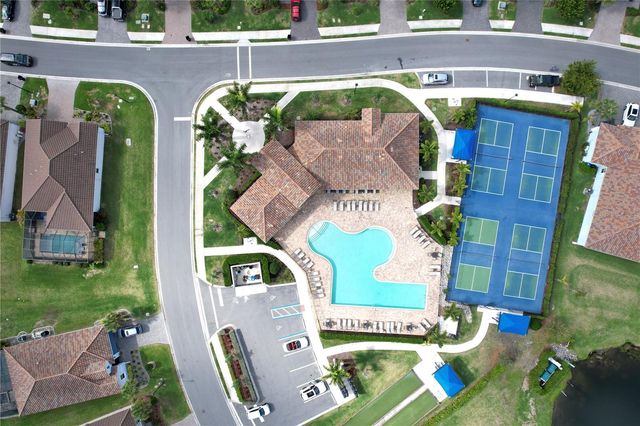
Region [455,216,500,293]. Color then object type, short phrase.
green sports court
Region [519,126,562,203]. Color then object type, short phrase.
blue sports court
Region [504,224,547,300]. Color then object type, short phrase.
blue sports court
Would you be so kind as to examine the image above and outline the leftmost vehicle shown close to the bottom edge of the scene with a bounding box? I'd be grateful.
[246,403,272,421]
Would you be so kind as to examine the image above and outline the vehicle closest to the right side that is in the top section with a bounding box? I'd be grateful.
[621,101,638,127]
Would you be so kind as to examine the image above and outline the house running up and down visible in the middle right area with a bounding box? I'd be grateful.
[572,122,640,262]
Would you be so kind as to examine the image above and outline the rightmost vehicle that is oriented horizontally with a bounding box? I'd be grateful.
[528,74,560,88]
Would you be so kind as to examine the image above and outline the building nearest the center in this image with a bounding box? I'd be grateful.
[229,107,419,242]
